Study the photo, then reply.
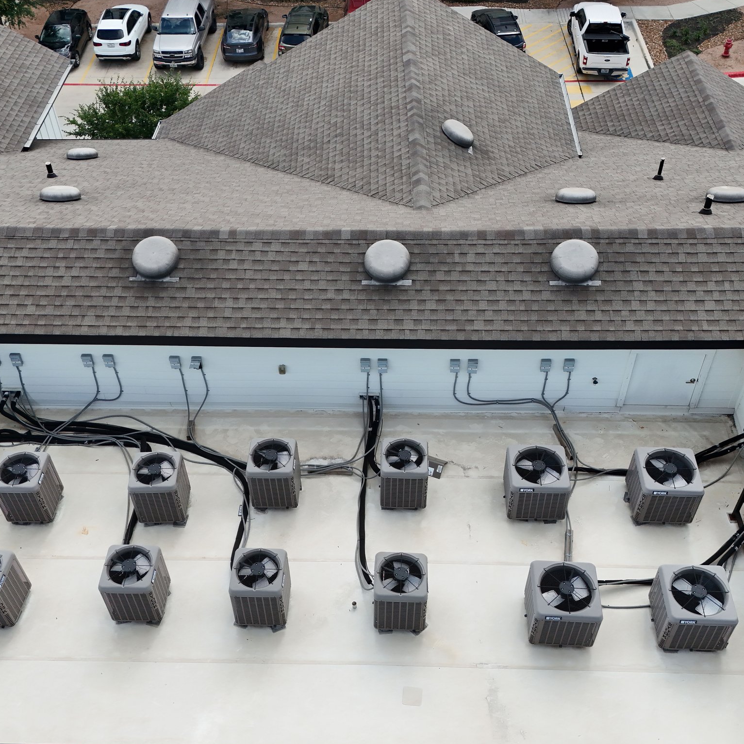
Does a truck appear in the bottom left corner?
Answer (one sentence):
No, no truck can be made out in the bottom left corner.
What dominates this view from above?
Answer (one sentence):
The bulk of the photo consists of buildings.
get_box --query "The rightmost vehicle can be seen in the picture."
[567,0,636,69]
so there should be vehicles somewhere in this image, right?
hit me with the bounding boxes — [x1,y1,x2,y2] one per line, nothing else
[30,4,92,64]
[147,0,216,70]
[86,5,150,62]
[567,0,636,69]
[282,0,332,50]
[473,0,528,50]
[214,9,268,60]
